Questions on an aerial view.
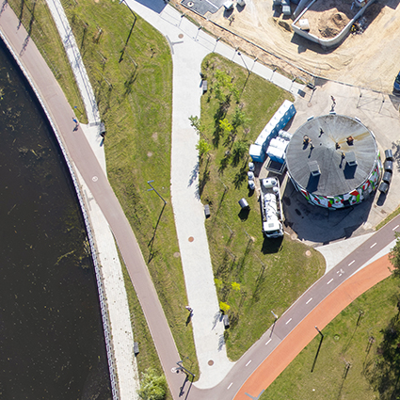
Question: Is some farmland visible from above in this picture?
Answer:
No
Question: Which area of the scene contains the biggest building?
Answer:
right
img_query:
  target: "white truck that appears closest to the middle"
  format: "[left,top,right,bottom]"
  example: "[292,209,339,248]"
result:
[253,172,281,238]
